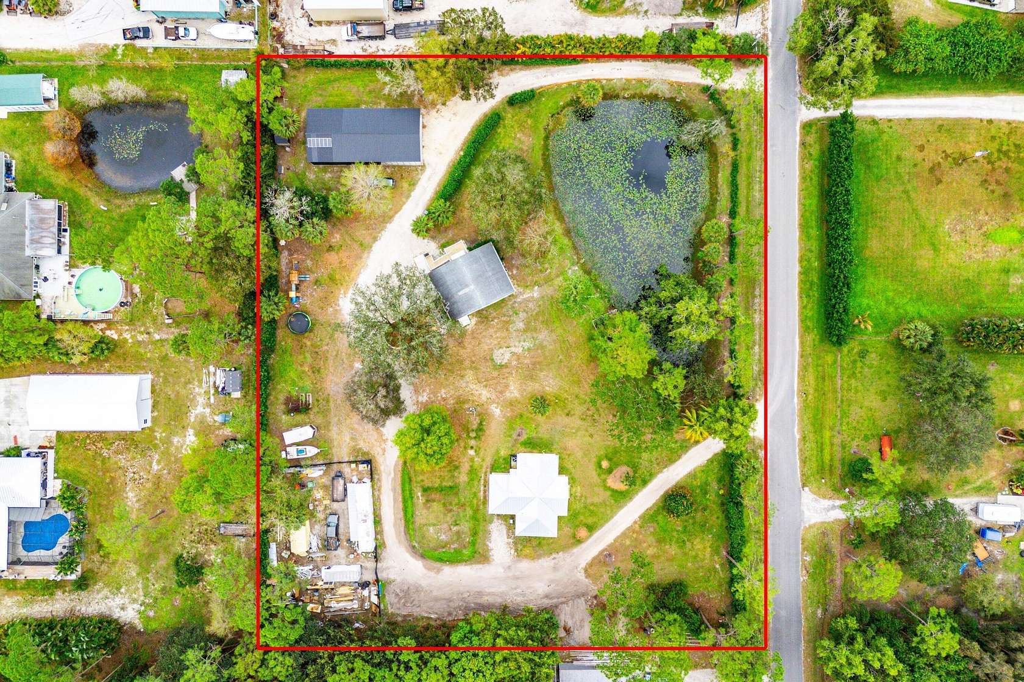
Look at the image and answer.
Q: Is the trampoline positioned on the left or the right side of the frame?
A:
left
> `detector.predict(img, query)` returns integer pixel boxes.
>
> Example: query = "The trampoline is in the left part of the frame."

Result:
[288,312,310,334]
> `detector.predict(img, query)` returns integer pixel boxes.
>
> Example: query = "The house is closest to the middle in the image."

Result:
[429,241,518,322]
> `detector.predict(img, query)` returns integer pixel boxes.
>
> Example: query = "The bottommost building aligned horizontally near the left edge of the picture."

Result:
[23,374,151,431]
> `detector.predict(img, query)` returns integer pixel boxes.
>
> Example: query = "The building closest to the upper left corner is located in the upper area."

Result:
[0,75,58,112]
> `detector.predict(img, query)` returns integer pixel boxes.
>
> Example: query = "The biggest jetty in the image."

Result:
[170,161,201,193]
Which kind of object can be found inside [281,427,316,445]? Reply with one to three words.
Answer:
boat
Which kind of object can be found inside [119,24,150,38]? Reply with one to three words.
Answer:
vehicle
